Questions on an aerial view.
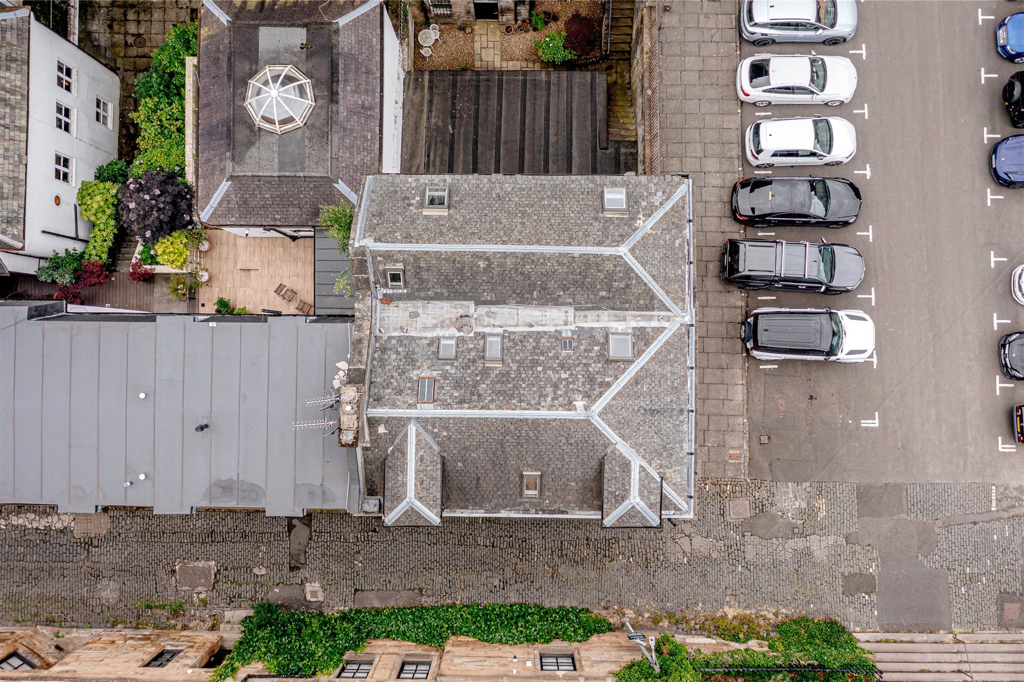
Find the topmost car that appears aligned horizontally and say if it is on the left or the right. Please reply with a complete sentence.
The topmost car that appears aligned horizontally sits on the right side.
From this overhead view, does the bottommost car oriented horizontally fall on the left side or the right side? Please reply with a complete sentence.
It is on the right.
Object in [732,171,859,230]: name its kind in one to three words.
car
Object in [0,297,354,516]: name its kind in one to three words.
building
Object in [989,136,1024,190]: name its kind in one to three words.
car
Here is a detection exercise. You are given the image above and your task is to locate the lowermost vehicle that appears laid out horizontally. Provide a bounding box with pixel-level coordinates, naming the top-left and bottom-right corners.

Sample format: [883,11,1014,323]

[741,302,877,366]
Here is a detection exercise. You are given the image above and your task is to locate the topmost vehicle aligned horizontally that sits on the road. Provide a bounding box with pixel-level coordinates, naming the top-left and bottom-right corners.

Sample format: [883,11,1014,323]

[739,0,857,50]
